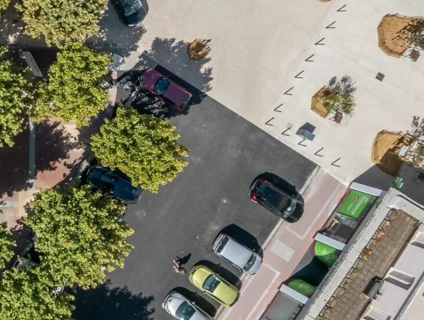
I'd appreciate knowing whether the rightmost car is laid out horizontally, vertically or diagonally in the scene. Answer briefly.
diagonally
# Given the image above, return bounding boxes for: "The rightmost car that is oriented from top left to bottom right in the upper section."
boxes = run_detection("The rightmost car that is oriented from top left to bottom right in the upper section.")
[132,63,199,116]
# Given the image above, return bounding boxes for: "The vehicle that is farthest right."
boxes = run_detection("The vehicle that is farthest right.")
[242,166,305,224]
